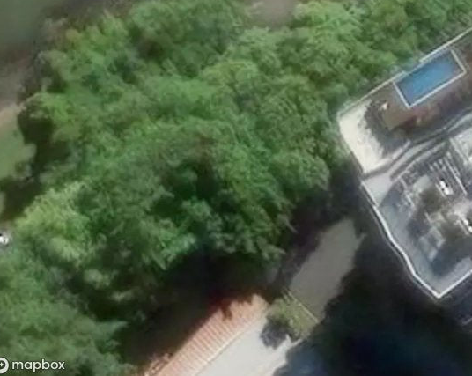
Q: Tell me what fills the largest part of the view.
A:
trees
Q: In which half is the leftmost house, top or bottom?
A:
bottom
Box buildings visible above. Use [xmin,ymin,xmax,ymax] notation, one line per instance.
[334,28,472,318]
[152,290,311,376]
